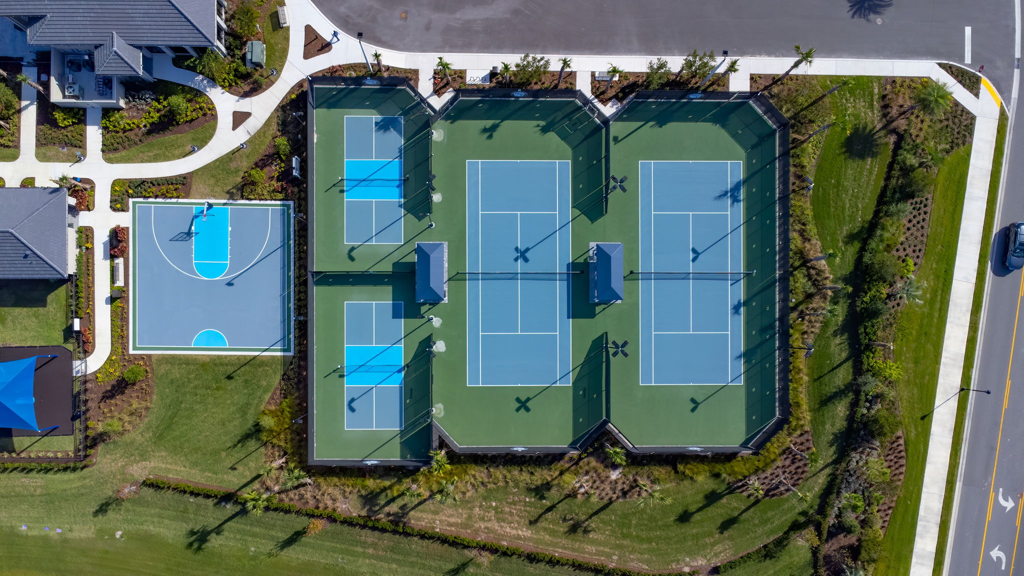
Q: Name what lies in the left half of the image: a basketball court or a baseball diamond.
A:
basketball court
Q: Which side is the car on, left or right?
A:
right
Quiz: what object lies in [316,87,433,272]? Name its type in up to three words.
sports court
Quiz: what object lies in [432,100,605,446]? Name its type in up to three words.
tennis court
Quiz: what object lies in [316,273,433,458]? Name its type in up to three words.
sports court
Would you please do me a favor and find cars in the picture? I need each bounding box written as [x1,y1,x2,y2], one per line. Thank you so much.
[1003,224,1024,270]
